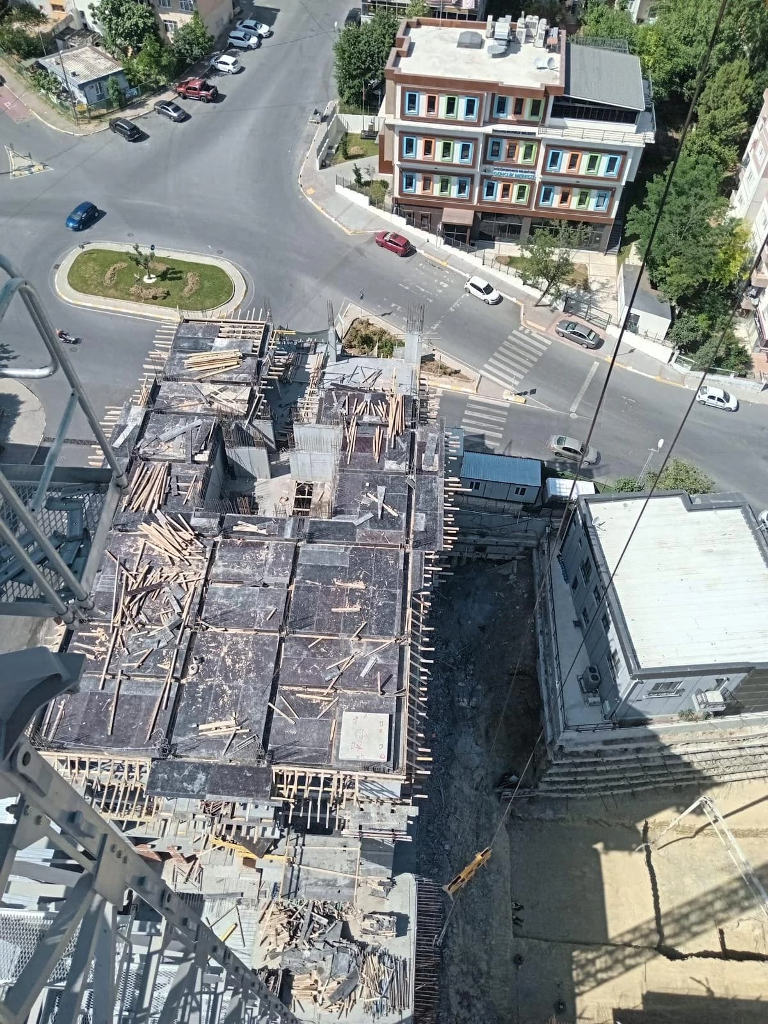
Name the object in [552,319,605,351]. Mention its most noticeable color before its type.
gray car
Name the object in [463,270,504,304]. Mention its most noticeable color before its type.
white car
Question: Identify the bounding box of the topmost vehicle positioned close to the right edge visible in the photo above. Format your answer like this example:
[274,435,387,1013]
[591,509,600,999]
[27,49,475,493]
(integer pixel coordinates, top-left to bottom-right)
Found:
[691,381,742,414]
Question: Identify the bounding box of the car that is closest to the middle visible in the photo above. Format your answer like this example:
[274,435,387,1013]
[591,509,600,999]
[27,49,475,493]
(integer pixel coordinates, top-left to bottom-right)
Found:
[545,433,603,468]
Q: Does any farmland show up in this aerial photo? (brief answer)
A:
No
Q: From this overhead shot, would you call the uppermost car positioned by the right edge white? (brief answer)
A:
Yes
